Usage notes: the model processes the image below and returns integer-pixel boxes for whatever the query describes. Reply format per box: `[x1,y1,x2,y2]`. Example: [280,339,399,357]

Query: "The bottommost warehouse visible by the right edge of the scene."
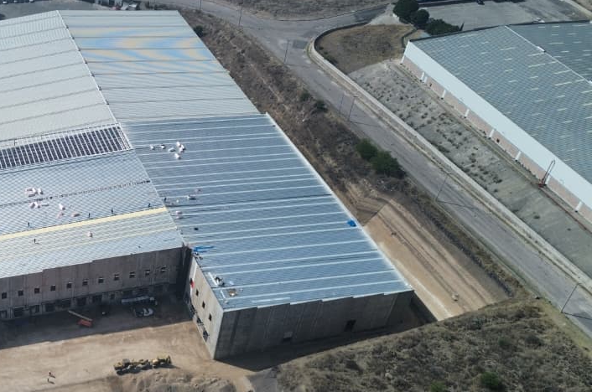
[398,20,592,225]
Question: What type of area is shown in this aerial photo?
industrial area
